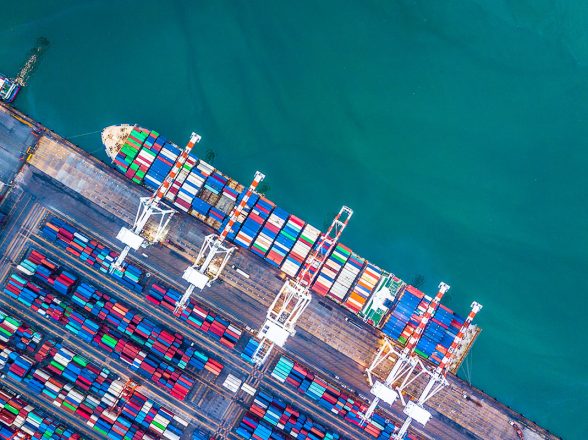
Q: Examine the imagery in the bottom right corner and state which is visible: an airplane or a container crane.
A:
container crane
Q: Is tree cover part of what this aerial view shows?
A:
No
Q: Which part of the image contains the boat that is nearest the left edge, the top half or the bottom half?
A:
top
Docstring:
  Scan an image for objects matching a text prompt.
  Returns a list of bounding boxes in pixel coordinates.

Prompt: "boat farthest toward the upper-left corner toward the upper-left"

[0,72,20,102]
